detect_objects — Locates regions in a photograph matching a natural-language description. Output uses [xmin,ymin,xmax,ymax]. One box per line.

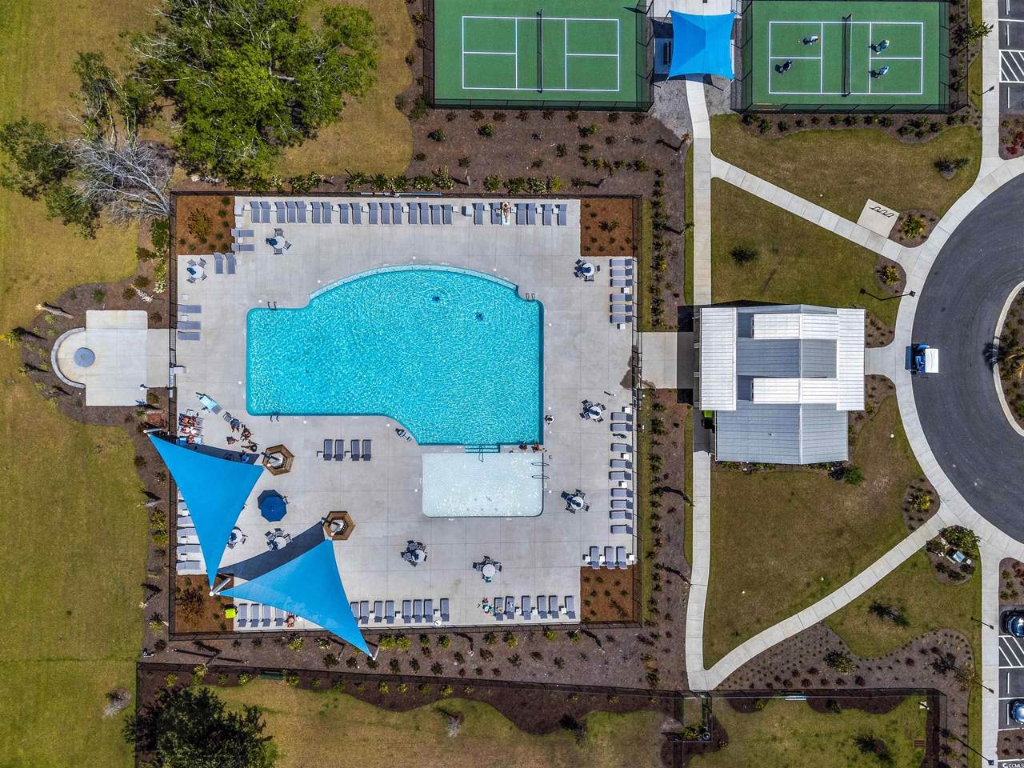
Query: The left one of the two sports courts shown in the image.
[434,0,647,110]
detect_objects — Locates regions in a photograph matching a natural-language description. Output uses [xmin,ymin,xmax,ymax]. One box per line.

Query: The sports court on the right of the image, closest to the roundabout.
[744,1,951,113]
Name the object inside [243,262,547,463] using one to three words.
swimming pool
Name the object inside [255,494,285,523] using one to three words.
umbrella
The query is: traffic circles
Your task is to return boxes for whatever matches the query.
[912,172,1024,540]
